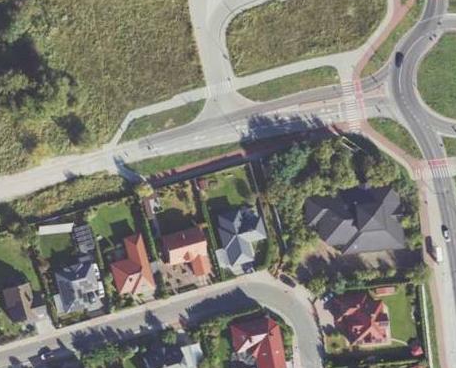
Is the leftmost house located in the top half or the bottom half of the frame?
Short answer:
bottom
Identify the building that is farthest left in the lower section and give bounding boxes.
[2,282,50,323]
